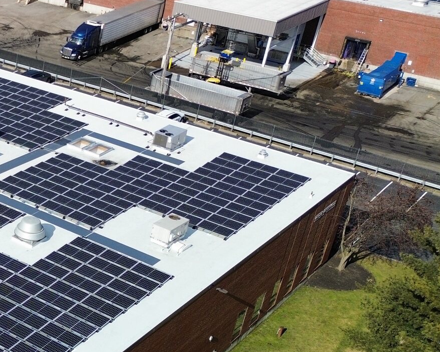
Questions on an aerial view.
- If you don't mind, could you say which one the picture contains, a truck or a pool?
truck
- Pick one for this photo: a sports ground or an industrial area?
industrial area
